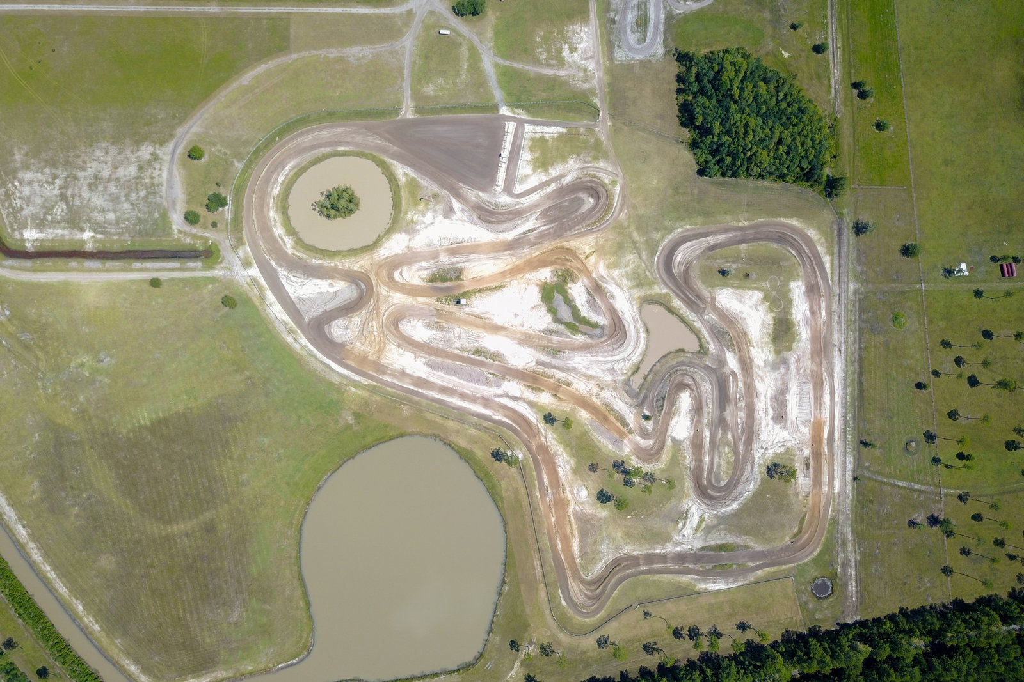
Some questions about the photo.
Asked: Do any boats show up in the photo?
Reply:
No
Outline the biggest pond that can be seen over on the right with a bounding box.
[633,303,698,389]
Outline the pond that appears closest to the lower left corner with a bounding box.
[234,435,507,682]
